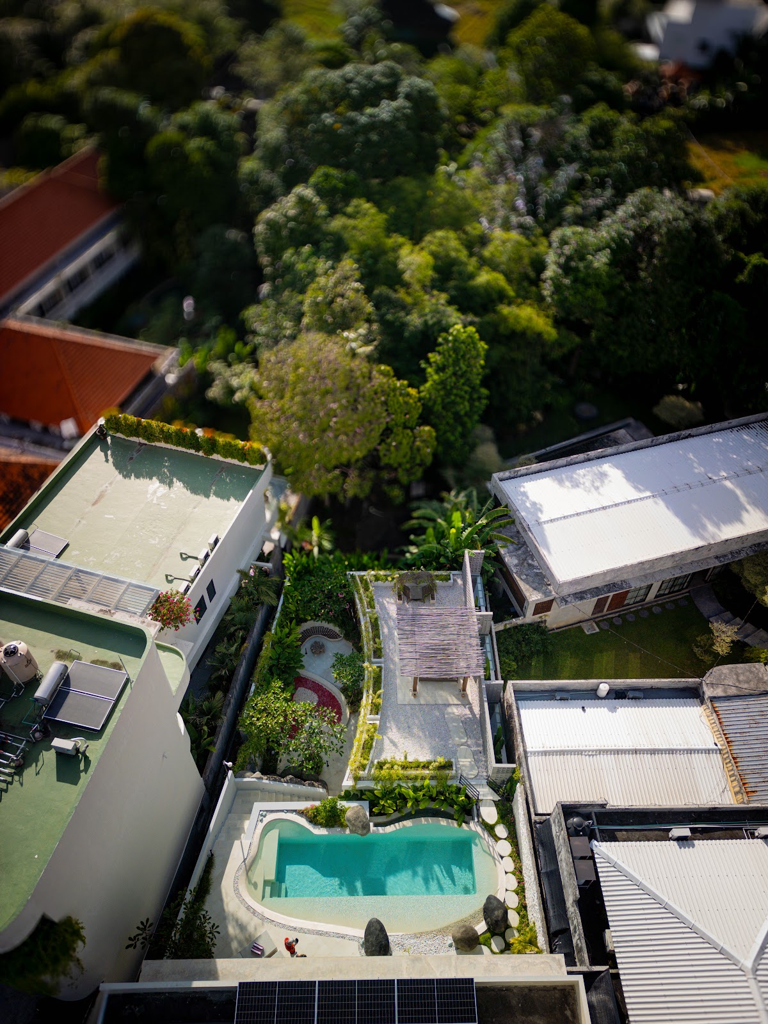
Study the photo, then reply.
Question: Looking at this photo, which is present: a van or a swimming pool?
swimming pool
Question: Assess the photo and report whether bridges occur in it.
No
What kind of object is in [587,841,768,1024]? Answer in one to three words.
house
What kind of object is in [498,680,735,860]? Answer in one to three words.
house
